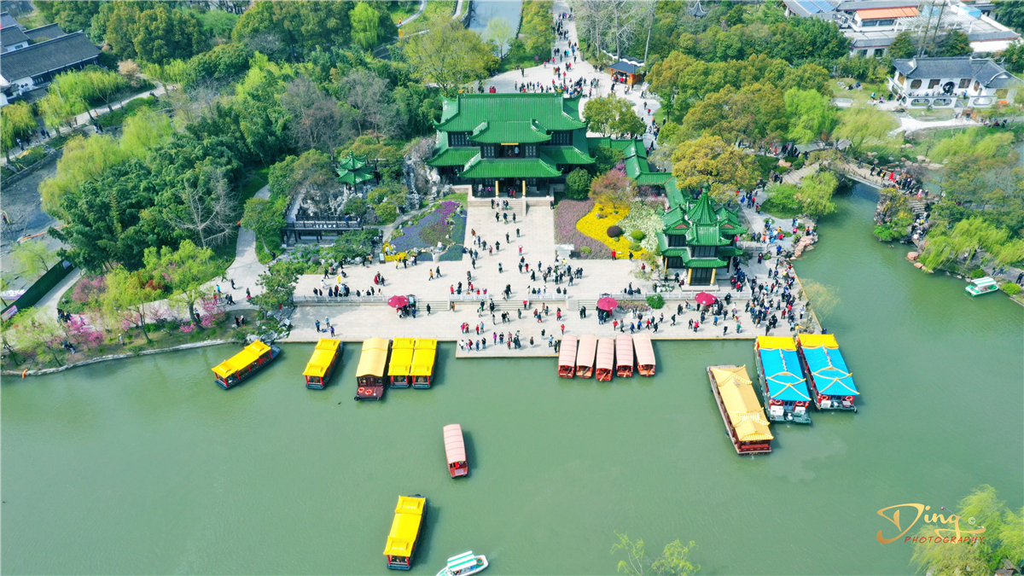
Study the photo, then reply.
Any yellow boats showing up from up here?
Yes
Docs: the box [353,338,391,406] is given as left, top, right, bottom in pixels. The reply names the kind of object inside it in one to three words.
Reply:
boat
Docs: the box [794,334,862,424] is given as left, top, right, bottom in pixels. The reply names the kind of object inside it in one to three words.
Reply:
vessel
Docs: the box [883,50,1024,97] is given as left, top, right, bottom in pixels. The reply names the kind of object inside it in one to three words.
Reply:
house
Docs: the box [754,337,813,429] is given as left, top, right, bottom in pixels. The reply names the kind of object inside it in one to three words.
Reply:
vessel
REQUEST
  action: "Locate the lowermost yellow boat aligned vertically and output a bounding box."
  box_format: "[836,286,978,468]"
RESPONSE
[381,493,427,575]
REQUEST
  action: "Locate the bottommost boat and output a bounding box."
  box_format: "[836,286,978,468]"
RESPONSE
[438,544,494,576]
